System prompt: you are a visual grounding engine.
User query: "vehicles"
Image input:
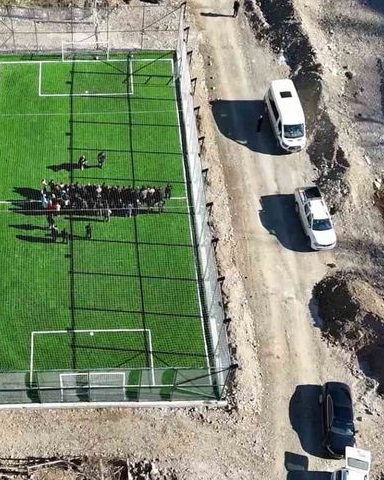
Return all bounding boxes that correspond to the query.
[318,382,360,461]
[335,452,371,480]
[294,186,337,252]
[266,81,308,151]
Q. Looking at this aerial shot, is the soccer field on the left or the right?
left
